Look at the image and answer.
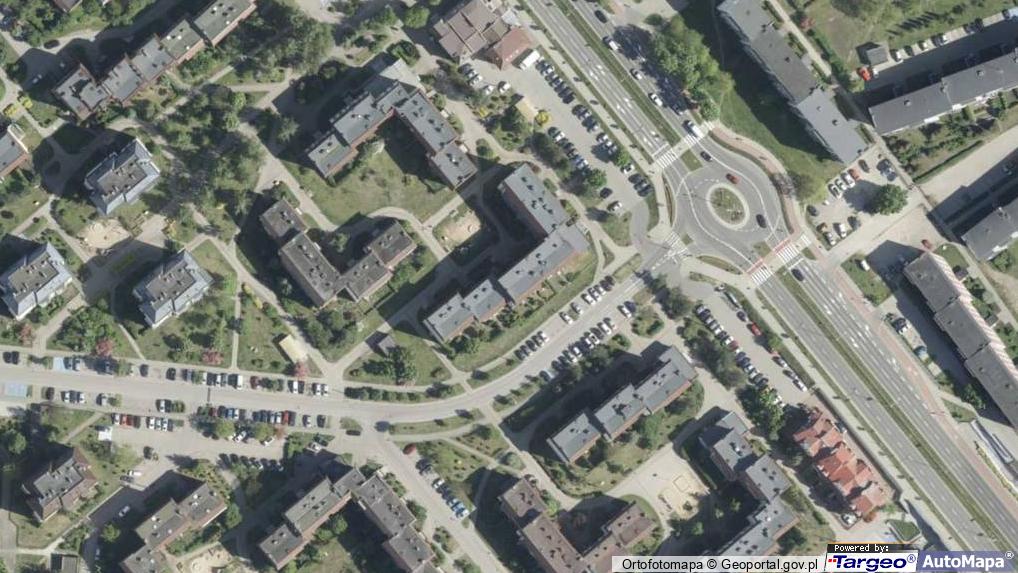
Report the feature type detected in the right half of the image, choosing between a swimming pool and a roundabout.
roundabout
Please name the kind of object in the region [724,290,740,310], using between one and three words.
vehicle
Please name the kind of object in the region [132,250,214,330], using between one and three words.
house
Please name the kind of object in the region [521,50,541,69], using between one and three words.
vehicle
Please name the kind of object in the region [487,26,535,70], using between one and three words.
building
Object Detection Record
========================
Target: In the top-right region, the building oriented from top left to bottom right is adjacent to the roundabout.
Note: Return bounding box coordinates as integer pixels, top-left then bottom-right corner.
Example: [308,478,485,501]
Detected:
[715,0,868,175]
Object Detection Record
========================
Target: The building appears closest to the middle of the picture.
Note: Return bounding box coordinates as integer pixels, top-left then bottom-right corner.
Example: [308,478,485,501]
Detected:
[421,164,590,349]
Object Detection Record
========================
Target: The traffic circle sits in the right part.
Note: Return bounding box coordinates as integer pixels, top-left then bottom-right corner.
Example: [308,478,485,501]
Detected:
[660,125,794,278]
